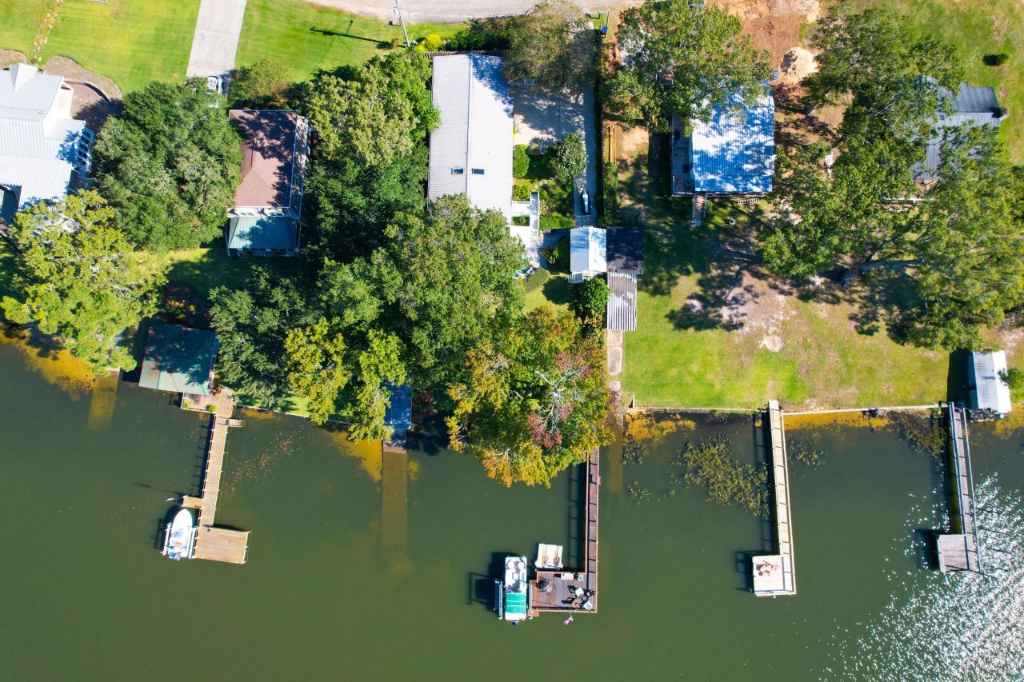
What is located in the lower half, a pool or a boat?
boat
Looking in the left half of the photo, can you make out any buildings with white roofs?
Yes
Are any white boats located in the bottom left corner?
Yes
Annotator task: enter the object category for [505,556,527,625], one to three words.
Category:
boat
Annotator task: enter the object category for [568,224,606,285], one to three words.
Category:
shed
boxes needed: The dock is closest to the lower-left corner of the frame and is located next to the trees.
[180,386,252,566]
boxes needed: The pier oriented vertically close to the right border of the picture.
[931,403,985,576]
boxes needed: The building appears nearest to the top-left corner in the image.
[0,63,99,217]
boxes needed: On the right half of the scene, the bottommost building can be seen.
[964,350,1012,413]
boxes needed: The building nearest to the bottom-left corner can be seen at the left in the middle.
[140,323,219,413]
